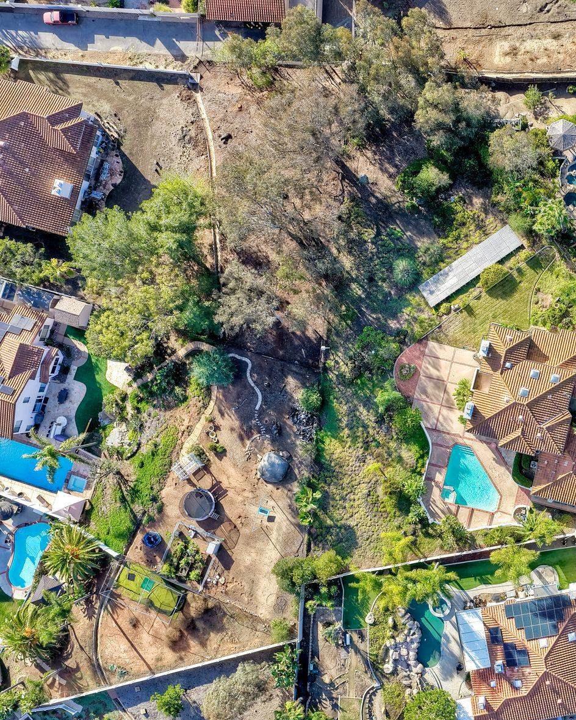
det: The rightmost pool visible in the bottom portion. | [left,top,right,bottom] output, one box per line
[438,442,503,515]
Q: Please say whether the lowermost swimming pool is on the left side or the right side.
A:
right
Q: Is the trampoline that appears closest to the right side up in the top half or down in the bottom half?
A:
bottom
